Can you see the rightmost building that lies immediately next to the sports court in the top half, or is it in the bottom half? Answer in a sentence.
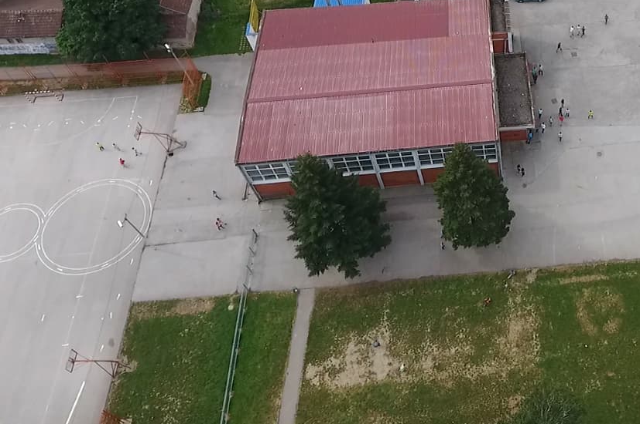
Seen from above, the rightmost building that lies immediately next to the sports court lies in the top half of the view.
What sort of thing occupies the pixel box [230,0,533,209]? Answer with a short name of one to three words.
building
